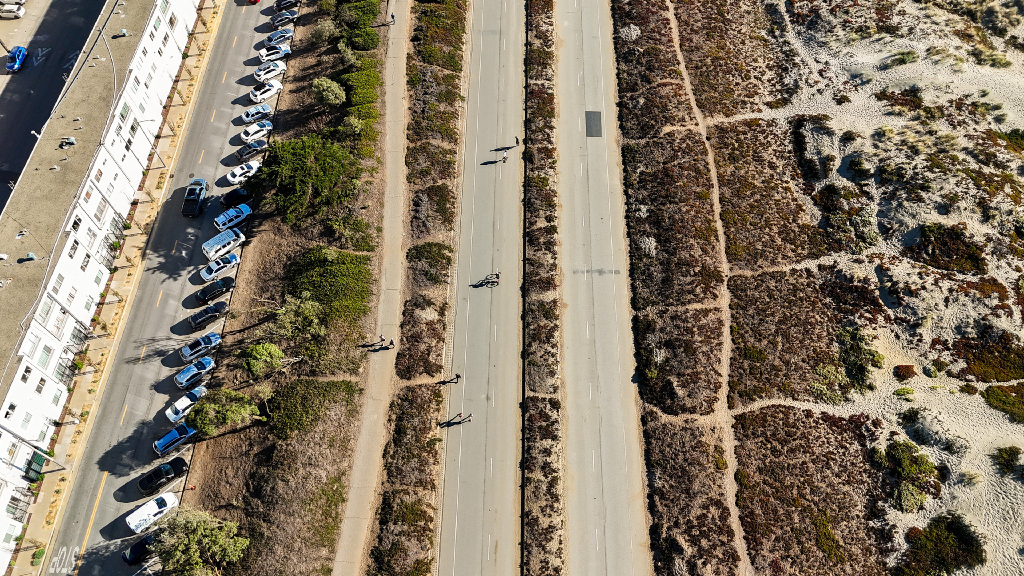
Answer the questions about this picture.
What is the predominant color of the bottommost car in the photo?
black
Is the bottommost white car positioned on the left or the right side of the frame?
left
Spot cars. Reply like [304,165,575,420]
[5,46,31,72]
[117,528,167,568]
[217,184,258,210]
[270,0,304,12]
[238,102,277,126]
[248,79,285,103]
[136,458,188,497]
[265,9,300,31]
[174,359,218,392]
[236,120,275,143]
[212,204,254,232]
[184,303,231,336]
[0,3,27,19]
[256,43,292,63]
[176,332,224,366]
[252,59,289,83]
[231,137,271,164]
[199,253,242,284]
[224,161,264,187]
[192,279,236,310]
[162,388,209,423]
[262,28,297,47]
[121,490,182,535]
[150,422,198,459]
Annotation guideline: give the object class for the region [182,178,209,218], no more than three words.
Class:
truck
